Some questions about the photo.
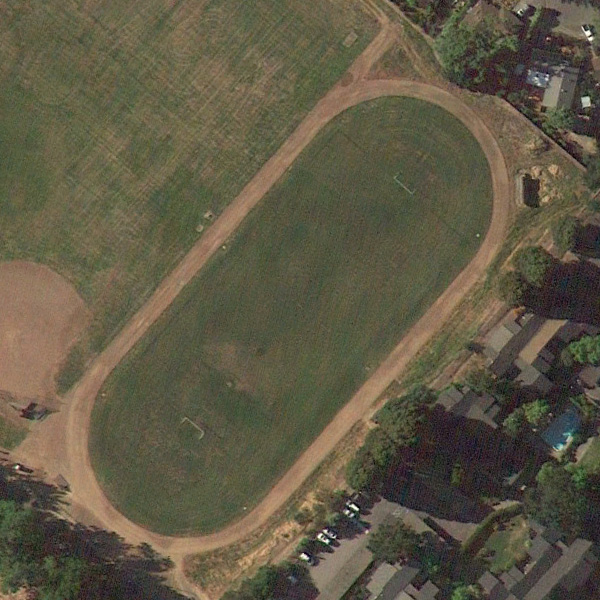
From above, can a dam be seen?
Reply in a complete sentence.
No, the picture doesn't show any dam.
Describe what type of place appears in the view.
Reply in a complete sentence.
The picture captures a sports ground.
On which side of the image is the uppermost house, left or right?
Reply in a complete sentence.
The uppermost house is on the right side of the image.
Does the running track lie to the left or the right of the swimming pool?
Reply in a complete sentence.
Looking at the photo, the running track lies to the left of the swimming pool.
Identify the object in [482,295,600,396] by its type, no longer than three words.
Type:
house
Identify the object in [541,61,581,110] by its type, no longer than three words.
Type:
house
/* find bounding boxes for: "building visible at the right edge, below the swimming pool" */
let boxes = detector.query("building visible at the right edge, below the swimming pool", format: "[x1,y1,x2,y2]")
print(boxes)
[469,516,600,600]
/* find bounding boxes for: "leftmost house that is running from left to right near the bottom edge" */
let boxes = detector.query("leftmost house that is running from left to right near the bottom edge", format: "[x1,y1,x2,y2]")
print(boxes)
[357,559,451,600]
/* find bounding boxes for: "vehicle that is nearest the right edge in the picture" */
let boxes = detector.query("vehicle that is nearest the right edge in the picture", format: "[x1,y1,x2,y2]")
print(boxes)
[581,23,595,42]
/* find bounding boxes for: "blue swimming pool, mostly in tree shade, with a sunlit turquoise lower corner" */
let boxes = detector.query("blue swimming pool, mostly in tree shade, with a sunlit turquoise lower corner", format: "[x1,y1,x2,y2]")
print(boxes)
[541,408,583,452]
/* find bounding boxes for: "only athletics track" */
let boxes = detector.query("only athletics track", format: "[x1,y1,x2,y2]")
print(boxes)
[65,77,510,555]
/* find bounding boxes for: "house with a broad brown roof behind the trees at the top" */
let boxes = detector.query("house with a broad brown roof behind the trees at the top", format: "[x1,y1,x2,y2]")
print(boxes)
[466,0,529,40]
